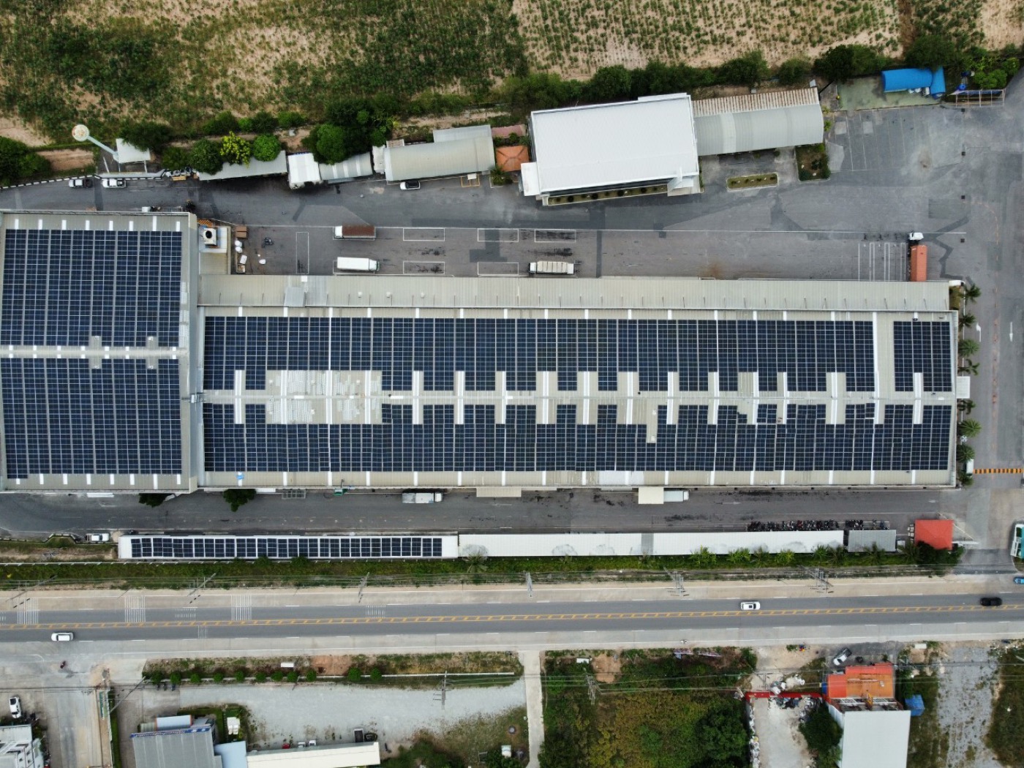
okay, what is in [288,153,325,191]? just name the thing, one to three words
shed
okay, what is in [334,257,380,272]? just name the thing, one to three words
vehicle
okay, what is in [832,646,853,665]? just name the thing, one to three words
car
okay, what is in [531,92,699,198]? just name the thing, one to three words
building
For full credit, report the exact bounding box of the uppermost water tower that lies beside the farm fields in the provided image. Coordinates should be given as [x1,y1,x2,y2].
[67,124,119,161]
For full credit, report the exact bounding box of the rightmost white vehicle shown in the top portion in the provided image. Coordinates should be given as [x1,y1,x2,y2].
[905,232,924,256]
